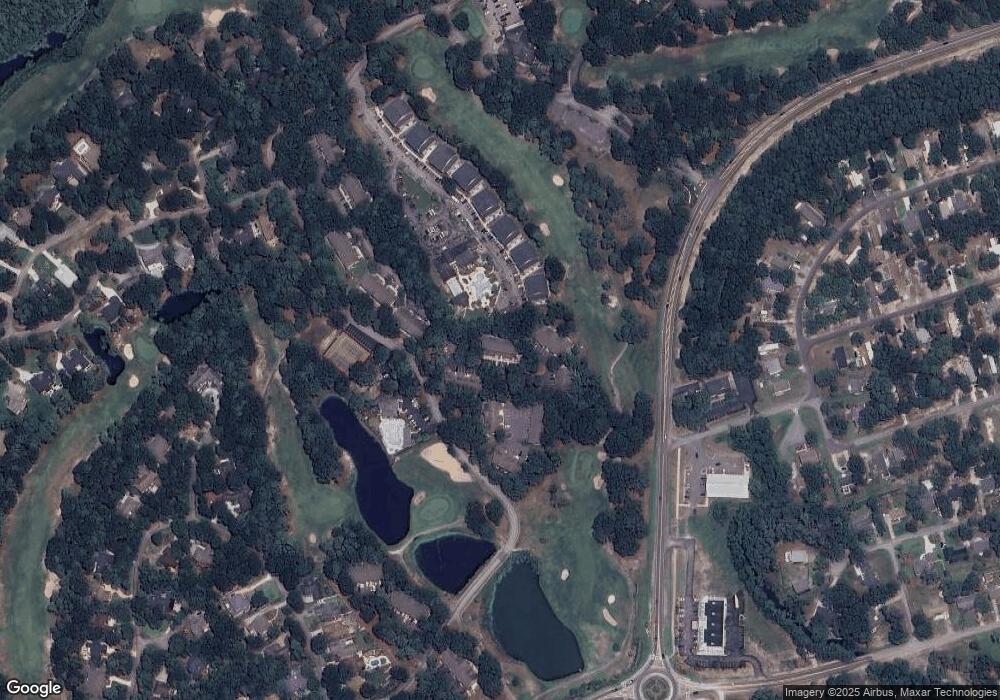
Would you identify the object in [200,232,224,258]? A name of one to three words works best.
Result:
house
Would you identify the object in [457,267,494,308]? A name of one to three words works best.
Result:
swimming pool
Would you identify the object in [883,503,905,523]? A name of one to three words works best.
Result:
house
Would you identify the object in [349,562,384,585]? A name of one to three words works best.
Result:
building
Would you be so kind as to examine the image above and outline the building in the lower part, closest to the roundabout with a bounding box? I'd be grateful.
[691,596,727,655]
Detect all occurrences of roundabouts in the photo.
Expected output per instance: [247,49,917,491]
[632,665,682,700]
